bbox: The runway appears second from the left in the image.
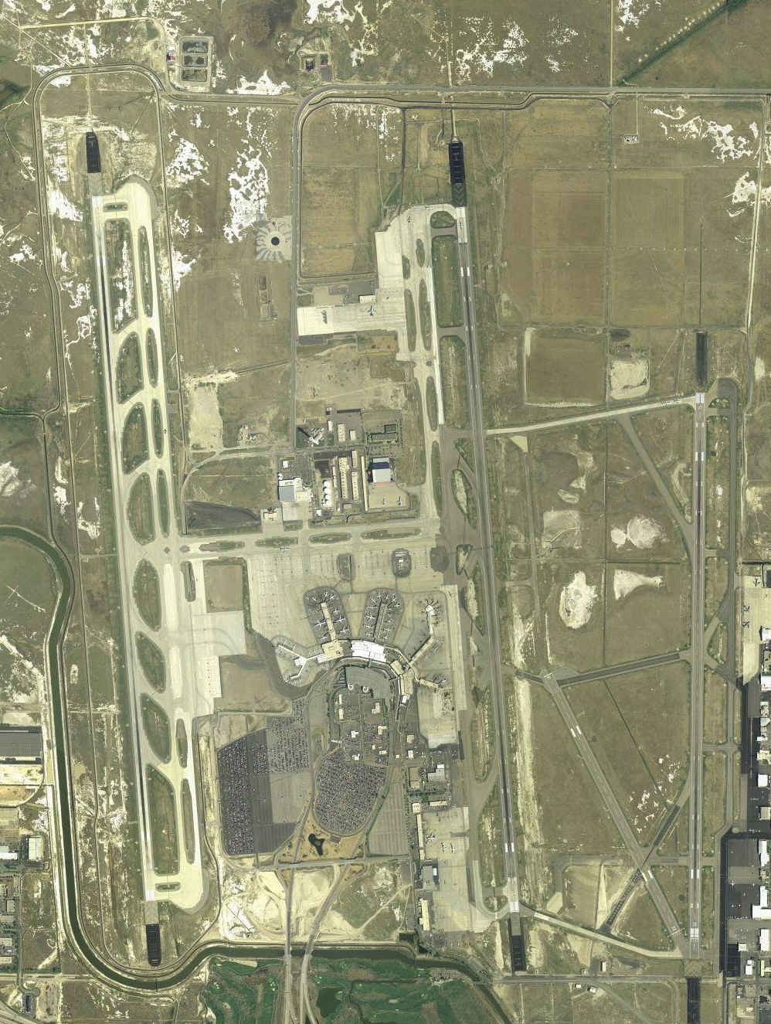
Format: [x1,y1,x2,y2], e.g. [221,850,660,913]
[449,143,525,971]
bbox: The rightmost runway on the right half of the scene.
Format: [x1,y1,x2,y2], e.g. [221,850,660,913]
[685,332,707,1024]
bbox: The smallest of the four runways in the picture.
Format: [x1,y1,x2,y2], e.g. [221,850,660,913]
[544,674,689,956]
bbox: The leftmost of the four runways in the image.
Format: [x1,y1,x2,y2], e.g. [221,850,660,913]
[86,131,160,966]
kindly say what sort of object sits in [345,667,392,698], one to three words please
building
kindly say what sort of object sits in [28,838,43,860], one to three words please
building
